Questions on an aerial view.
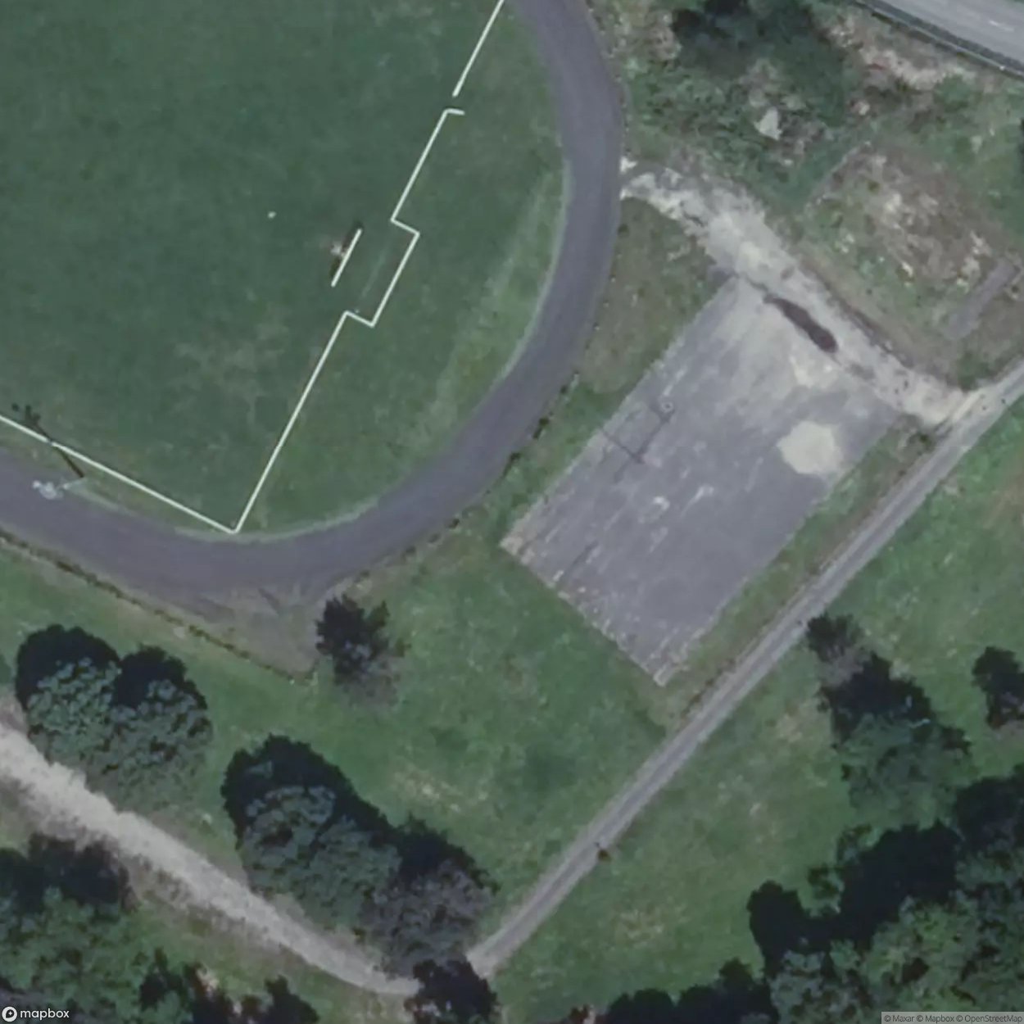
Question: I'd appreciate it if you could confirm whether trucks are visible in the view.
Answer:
No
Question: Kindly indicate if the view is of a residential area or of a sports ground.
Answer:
sports ground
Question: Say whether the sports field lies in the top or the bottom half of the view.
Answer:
top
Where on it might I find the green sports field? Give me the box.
[0,0,501,530]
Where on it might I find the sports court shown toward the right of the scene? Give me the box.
[502,277,897,687]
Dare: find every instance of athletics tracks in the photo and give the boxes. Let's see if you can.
[0,0,621,619]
